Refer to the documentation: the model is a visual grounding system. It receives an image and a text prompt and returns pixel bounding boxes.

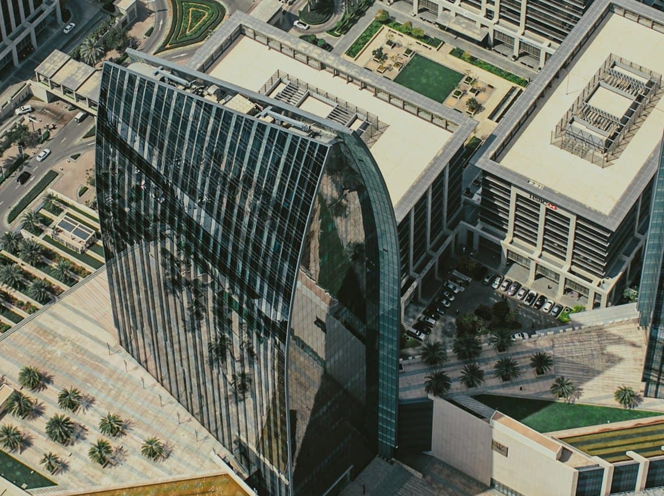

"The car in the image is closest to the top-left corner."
[62,21,76,35]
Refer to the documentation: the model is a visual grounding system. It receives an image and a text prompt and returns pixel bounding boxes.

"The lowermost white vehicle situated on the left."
[35,148,51,163]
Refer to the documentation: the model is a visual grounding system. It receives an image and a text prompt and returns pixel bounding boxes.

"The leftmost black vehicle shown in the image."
[15,169,32,186]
